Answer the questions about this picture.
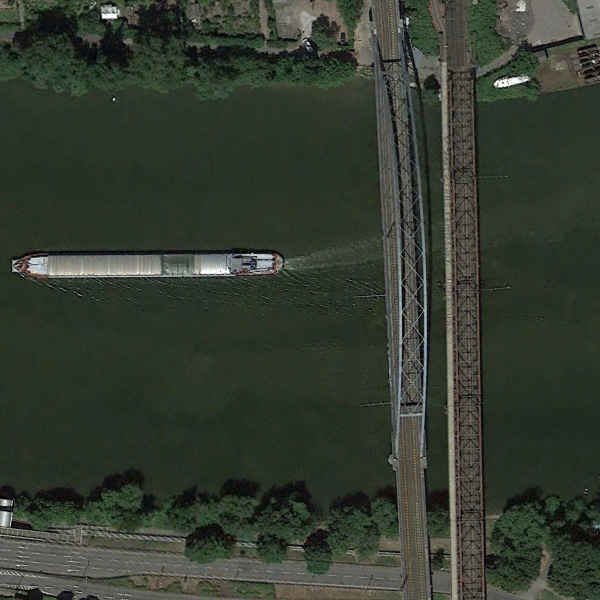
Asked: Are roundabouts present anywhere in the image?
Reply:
No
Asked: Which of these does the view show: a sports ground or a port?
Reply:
port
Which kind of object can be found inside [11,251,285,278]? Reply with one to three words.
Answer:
ship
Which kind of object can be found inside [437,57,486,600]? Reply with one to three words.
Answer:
bridge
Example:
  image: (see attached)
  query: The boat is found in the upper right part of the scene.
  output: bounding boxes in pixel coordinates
[493,75,530,88]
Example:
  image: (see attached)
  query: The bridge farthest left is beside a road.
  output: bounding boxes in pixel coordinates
[369,0,432,600]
